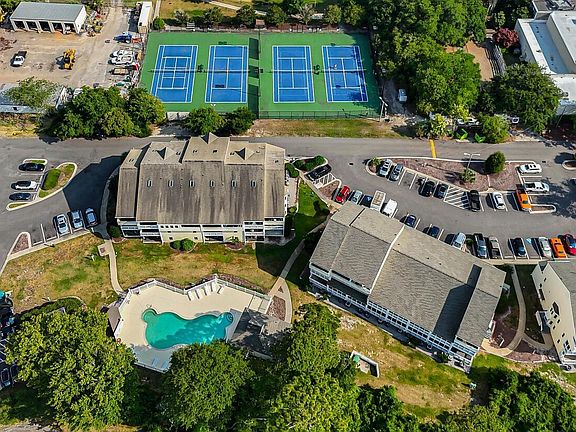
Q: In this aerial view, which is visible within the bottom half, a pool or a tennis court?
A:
pool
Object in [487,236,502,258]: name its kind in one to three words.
vehicle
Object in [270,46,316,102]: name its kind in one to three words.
tennis court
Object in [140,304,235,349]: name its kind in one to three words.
swimming pool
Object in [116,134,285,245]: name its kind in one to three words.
building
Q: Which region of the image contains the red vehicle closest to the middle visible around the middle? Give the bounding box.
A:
[337,186,349,203]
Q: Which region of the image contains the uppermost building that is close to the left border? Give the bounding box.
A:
[7,0,85,34]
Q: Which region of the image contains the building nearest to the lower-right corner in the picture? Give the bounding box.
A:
[532,260,576,364]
